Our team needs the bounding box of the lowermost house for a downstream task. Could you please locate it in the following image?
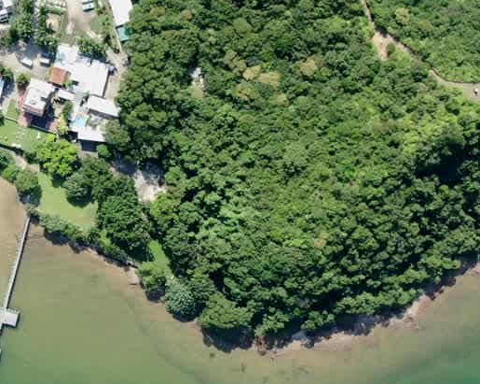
[77,125,108,144]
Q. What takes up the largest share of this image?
trees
